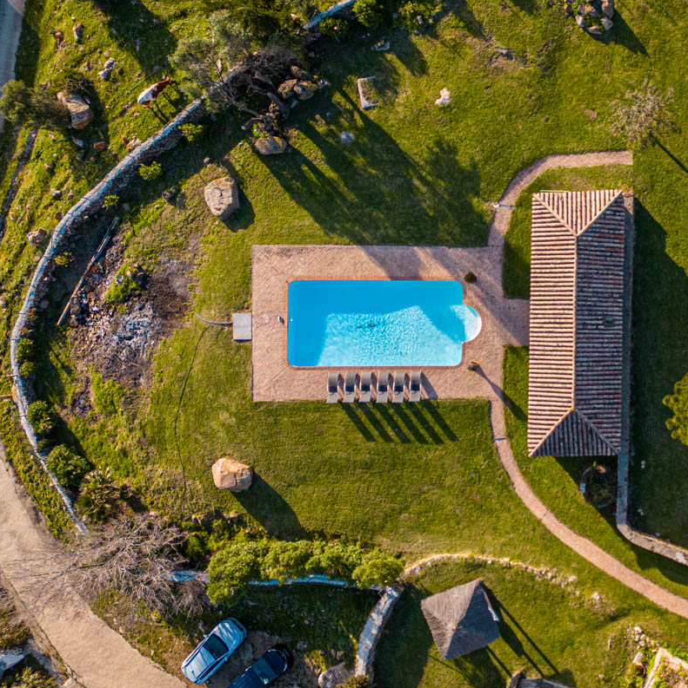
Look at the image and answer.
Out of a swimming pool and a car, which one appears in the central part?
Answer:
swimming pool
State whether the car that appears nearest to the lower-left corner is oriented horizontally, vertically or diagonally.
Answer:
diagonally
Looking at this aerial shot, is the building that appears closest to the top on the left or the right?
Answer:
right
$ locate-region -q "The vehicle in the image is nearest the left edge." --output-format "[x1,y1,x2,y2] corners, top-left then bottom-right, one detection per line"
[178,613,251,687]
